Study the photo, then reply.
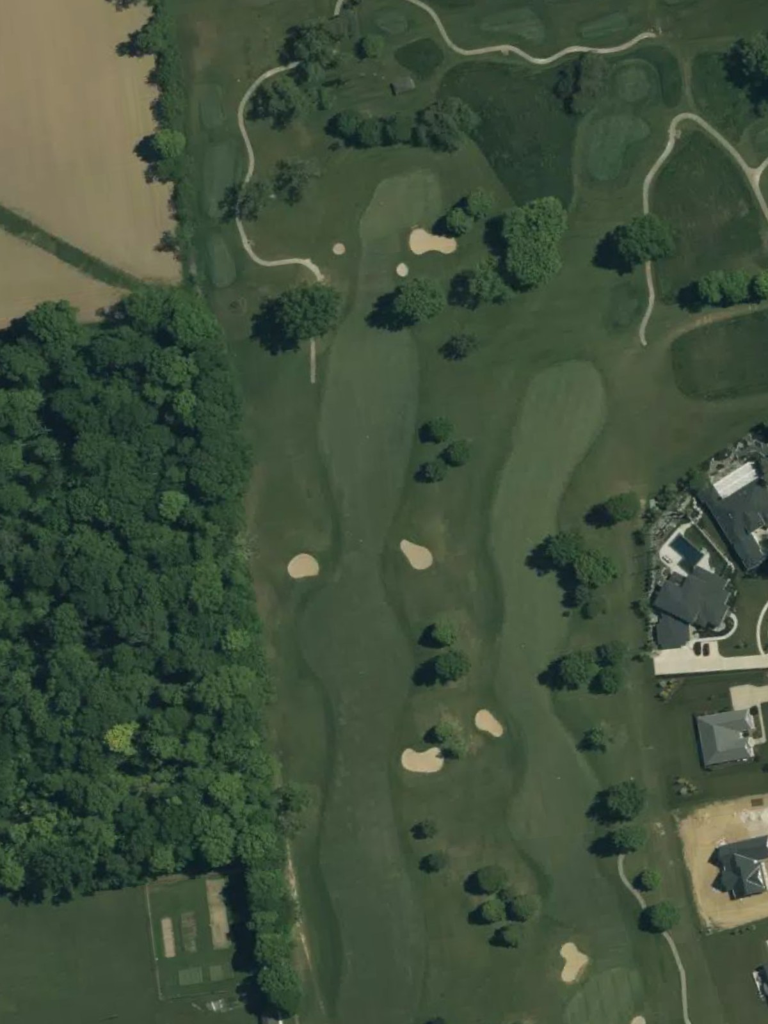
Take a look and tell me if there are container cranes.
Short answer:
No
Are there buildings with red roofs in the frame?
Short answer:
No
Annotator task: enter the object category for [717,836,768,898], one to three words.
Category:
house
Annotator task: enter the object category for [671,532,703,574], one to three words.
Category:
swimming pool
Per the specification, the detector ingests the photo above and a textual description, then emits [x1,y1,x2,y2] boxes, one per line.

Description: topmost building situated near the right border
[704,462,768,571]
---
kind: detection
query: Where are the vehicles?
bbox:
[695,643,700,655]
[704,644,709,656]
